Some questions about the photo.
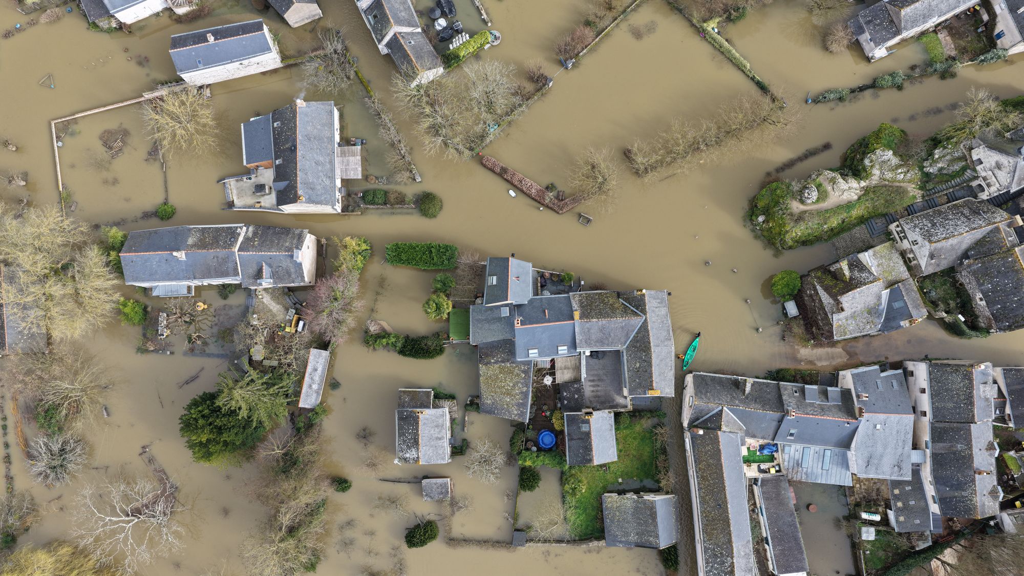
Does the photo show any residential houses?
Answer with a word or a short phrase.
Yes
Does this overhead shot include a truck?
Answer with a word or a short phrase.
No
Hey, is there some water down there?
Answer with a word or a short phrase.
Yes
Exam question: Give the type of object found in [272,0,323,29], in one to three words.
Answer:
house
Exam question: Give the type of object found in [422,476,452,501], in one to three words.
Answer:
shed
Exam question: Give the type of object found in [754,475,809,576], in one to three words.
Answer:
barn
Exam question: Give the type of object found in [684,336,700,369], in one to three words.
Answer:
boat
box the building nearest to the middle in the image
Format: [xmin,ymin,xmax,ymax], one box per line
[483,257,533,305]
